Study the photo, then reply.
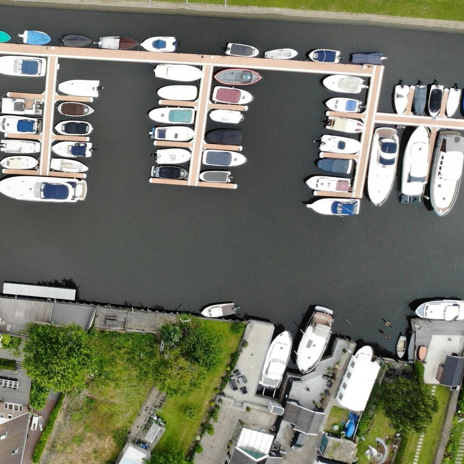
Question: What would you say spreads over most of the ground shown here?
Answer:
water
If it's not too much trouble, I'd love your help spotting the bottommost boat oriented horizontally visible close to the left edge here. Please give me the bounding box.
[0,174,87,202]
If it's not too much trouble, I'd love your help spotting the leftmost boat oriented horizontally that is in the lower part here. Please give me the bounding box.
[201,302,241,318]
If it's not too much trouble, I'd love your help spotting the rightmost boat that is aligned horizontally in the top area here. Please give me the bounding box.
[350,51,387,64]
